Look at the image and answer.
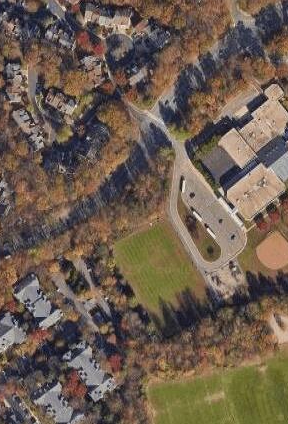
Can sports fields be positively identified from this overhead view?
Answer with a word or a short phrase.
Yes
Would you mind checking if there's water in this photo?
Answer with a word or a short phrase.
No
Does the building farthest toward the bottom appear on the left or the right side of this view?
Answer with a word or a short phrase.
left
